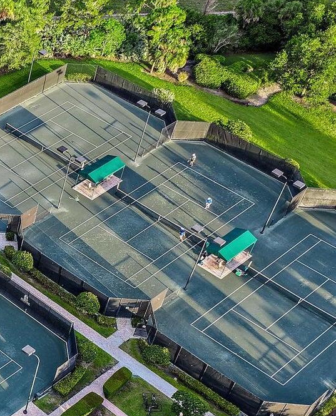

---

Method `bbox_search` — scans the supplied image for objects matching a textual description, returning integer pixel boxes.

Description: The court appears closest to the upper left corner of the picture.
[0,82,170,228]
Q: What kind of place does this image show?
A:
sports ground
